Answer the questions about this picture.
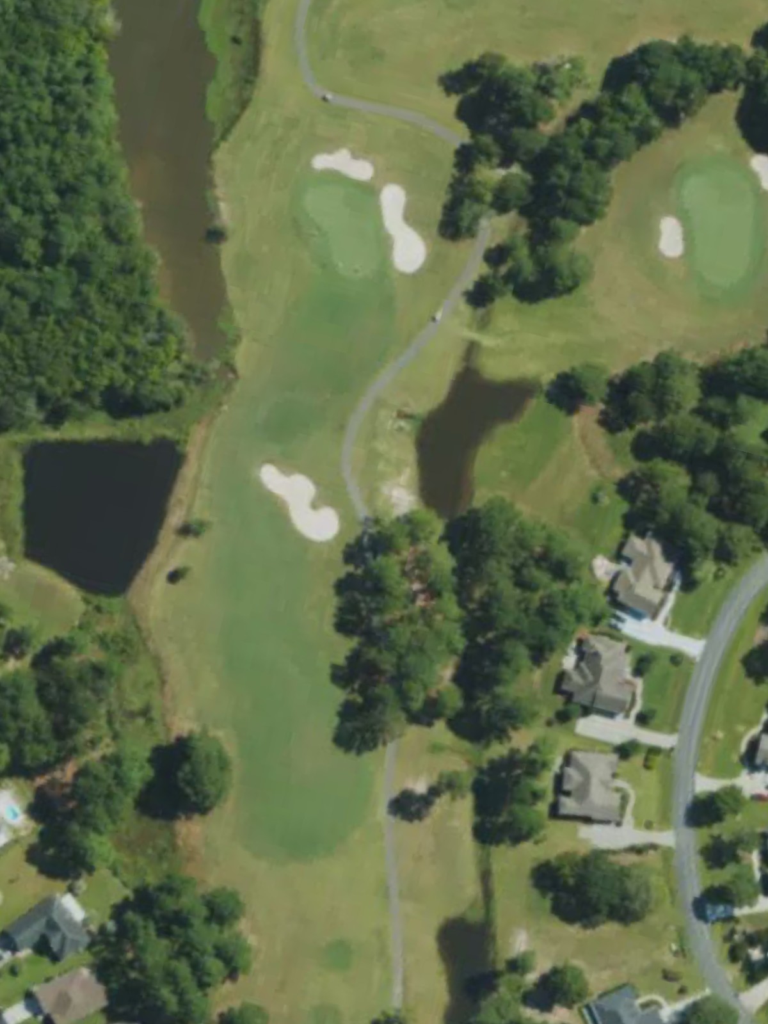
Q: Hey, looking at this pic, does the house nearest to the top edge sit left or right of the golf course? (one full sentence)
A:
The house nearest to the top edge appears to the right of the golf course in this view.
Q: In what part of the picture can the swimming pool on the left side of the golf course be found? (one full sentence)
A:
The swimming pool on the left side of the golf course appears toward the bottom left of the photo.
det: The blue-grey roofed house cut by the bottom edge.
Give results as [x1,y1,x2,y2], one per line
[586,985,672,1024]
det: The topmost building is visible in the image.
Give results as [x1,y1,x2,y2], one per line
[607,531,672,620]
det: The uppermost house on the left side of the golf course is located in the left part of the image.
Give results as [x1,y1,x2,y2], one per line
[0,893,92,966]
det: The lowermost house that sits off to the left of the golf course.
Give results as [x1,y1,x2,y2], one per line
[33,964,109,1024]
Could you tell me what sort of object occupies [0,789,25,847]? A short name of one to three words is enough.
swimming pool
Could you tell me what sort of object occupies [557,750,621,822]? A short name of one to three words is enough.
house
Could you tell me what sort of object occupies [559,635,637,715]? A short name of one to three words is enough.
house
